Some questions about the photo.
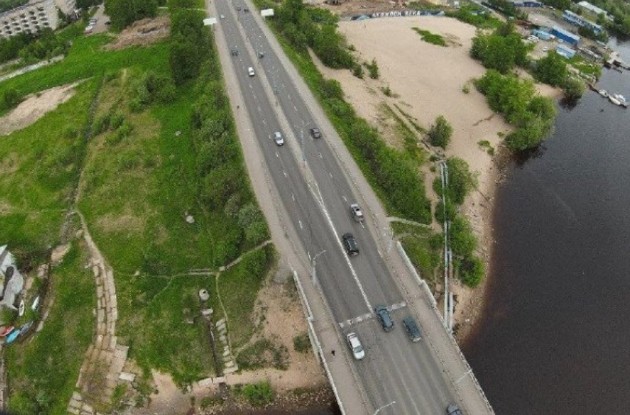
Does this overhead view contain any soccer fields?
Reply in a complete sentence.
No, I find no soccer field anywhere in the image.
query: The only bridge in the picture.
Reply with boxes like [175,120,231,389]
[293,248,496,415]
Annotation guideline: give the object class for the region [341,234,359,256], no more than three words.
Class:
car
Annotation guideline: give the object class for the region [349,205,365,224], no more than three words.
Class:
car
